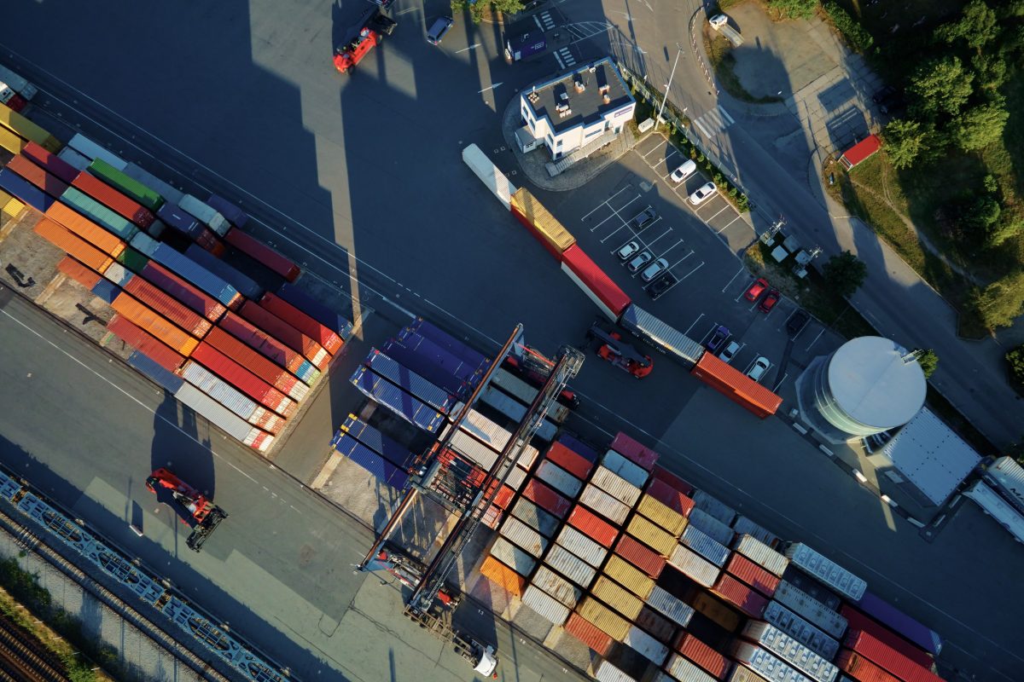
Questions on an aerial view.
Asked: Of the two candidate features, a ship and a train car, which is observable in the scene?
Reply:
train car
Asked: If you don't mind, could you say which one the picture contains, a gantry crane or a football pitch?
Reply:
gantry crane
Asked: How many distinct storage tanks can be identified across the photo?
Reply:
1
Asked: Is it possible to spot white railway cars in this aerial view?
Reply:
No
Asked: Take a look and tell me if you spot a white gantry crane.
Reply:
No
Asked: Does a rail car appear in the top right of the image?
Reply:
No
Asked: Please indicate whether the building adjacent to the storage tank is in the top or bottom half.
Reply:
bottom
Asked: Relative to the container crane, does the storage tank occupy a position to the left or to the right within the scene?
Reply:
on the right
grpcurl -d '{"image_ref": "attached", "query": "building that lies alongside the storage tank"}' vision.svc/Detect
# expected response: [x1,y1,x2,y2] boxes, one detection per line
[866,407,981,508]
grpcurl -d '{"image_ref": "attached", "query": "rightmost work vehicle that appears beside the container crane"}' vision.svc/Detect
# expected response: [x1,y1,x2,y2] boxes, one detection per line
[576,304,663,379]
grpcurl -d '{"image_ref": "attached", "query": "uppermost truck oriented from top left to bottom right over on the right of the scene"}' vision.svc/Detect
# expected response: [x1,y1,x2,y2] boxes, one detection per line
[705,12,745,46]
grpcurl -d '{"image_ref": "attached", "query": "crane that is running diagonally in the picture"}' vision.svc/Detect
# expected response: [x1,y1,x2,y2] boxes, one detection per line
[361,328,591,623]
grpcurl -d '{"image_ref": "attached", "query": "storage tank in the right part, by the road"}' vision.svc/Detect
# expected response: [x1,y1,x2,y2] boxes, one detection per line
[802,335,928,440]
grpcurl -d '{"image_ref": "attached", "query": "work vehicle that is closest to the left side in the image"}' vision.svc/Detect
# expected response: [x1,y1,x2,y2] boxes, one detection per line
[148,475,232,550]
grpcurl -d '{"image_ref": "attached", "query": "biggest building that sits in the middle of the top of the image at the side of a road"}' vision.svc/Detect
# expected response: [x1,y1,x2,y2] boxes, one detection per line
[521,56,636,160]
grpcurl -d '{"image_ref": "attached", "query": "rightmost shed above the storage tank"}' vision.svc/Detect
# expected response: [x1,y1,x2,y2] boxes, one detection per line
[839,135,880,171]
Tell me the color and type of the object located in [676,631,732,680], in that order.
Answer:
red shipping container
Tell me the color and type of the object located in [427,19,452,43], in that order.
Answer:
blue vehicle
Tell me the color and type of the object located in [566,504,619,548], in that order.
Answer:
red shipping container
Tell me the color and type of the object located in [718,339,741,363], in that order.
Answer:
blue car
